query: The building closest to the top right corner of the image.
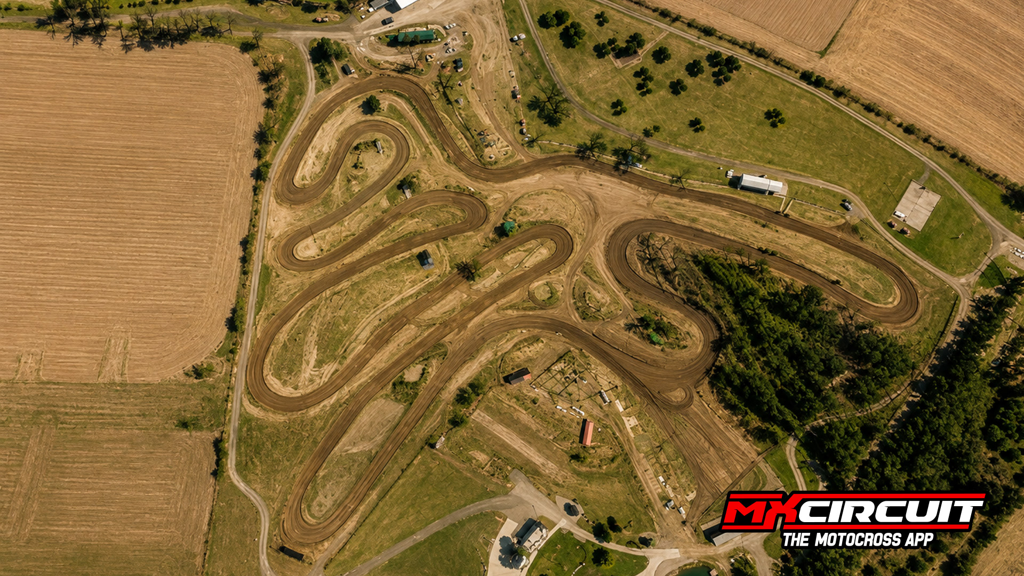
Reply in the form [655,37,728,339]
[735,175,784,200]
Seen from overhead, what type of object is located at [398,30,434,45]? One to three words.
building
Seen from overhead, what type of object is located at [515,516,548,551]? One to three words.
house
